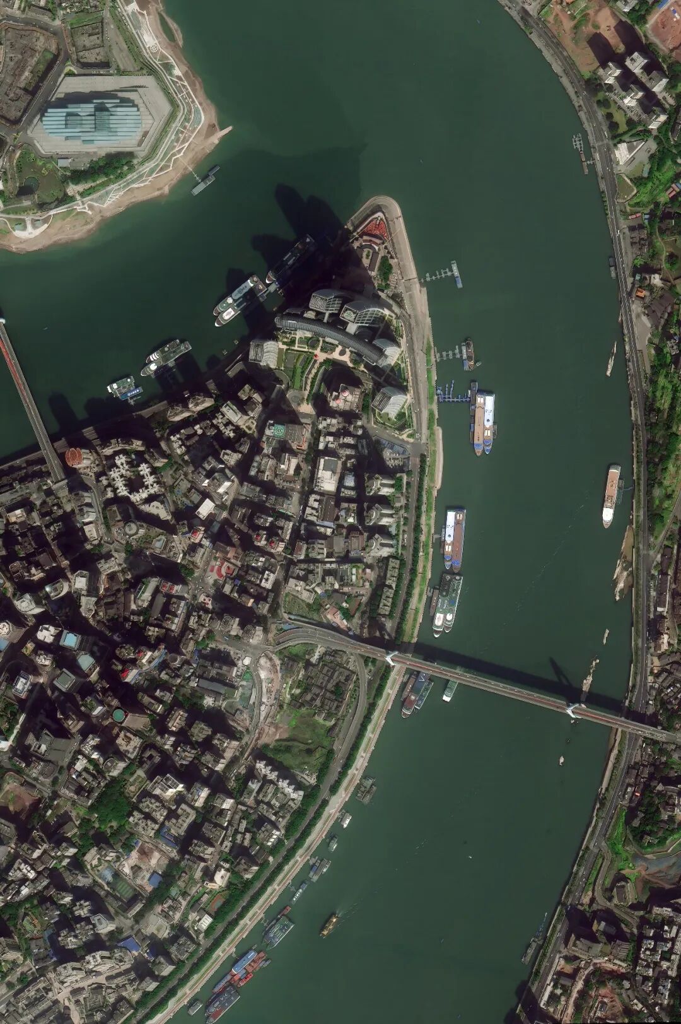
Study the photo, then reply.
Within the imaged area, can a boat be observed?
Yes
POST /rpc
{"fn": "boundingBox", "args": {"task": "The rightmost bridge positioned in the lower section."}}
[280,630,681,743]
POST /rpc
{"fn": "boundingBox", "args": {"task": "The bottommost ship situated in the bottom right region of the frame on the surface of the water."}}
[521,938,536,965]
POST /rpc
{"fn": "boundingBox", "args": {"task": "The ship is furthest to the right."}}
[603,464,622,529]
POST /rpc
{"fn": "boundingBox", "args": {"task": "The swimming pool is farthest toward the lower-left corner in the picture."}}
[99,862,114,881]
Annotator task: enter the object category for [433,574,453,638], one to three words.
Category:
ship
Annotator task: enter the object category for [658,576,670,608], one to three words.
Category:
house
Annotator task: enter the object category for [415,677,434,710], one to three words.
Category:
boat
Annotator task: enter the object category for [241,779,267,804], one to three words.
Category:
building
